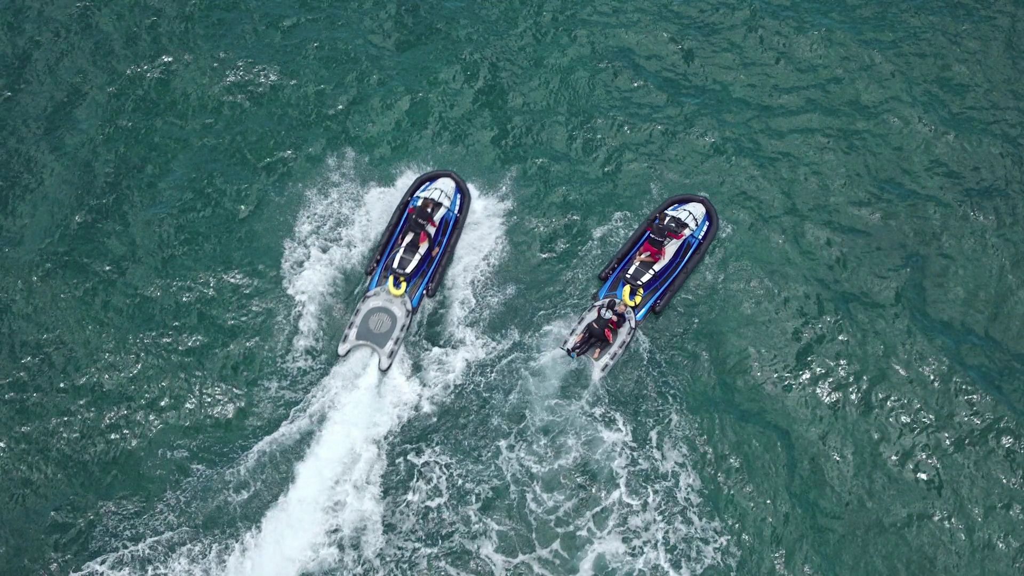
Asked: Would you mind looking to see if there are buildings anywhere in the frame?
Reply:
No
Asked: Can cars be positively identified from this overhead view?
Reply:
No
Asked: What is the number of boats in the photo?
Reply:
2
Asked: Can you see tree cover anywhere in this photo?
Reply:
No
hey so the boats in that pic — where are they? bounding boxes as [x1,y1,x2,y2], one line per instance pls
[362,172,468,315]
[601,194,715,323]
